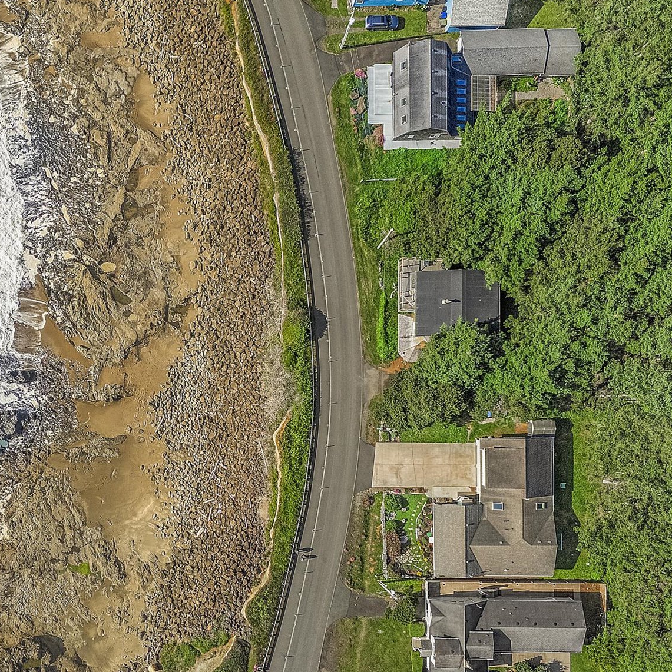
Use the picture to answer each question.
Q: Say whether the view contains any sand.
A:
Yes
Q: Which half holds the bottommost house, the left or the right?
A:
right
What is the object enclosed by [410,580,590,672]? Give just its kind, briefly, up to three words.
house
